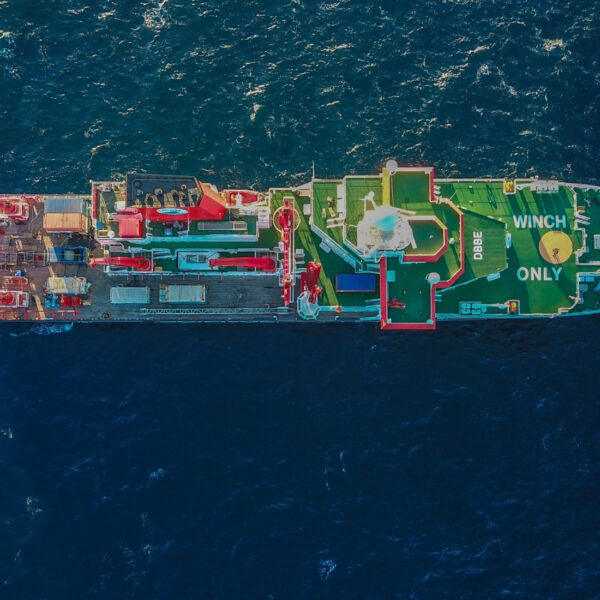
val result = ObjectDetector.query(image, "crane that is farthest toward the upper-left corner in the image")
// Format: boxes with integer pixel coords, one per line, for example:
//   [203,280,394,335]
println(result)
[86,255,156,271]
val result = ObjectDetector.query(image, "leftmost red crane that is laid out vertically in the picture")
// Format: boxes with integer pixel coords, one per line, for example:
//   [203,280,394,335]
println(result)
[272,197,301,305]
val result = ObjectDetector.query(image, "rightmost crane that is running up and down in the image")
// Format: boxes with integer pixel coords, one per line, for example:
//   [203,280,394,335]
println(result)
[297,260,324,319]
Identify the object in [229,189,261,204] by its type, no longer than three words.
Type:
boat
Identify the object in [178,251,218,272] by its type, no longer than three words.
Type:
boat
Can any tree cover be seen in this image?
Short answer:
No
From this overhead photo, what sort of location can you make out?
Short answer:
port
